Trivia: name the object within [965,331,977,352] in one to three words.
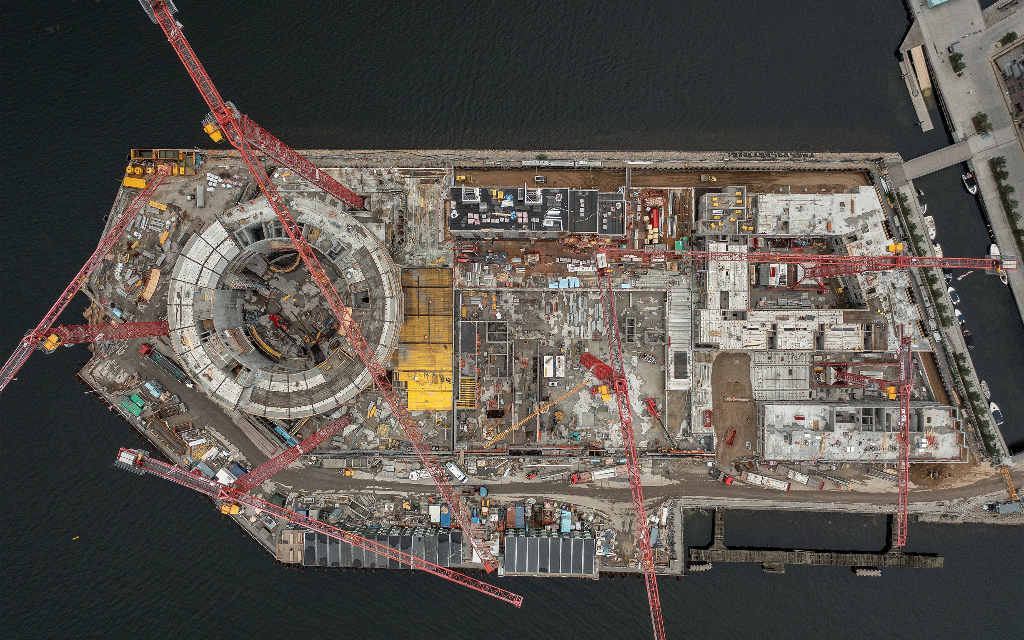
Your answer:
boat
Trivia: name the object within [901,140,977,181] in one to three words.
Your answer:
bridge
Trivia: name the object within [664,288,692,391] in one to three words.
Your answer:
building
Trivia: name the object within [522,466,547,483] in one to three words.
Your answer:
work vehicle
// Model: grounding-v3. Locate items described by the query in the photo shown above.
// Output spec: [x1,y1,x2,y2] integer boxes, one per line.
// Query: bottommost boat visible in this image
[992,404,1006,426]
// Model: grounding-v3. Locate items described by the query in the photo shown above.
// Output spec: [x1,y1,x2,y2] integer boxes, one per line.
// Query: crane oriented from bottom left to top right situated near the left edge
[0,163,176,386]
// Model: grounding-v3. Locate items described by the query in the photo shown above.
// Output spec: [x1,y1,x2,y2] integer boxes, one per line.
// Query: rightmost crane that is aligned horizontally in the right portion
[593,245,1018,294]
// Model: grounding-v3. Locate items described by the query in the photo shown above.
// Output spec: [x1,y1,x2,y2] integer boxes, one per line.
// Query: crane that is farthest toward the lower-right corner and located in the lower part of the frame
[811,325,920,548]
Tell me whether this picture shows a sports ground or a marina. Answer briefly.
marina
